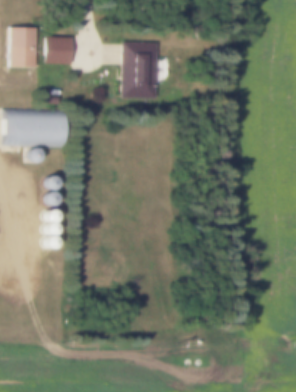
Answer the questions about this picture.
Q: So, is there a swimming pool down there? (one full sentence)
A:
No, I find no swimming pool anywhere in the image.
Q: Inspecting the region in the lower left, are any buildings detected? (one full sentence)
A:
No, looking in the lower left, there is no building.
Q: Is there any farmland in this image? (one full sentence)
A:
Yes, there is farmland in the image.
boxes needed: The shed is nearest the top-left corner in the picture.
[4,26,37,70]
